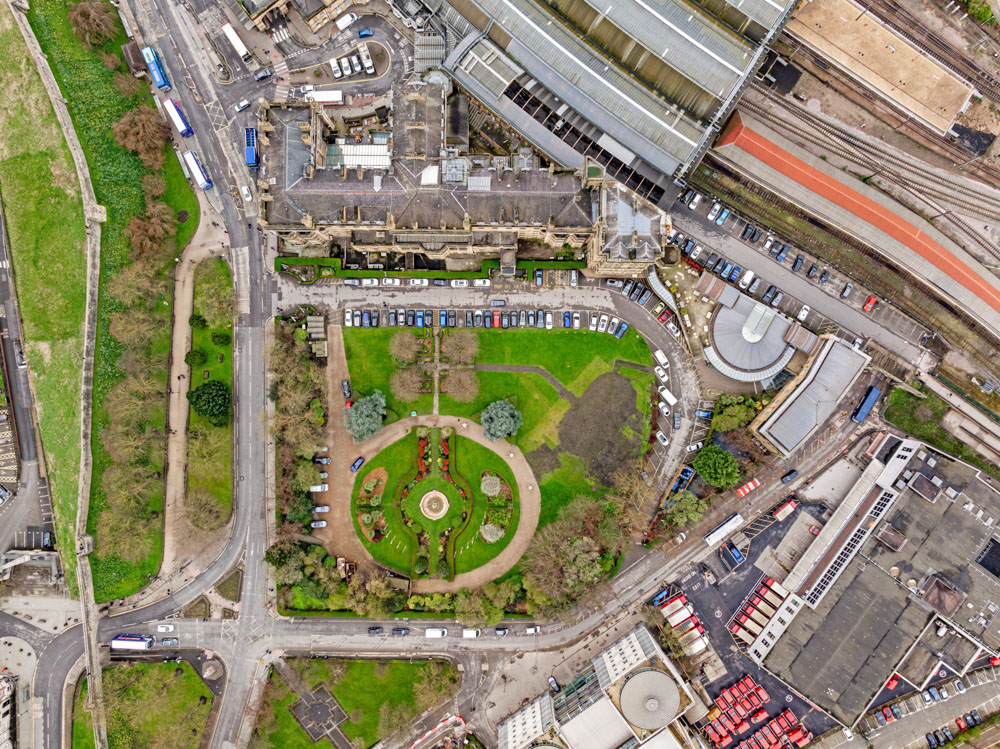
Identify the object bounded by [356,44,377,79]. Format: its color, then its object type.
white vehicle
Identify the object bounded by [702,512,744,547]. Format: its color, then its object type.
white bus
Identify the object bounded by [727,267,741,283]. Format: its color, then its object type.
blue car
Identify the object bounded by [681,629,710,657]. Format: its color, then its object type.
white truck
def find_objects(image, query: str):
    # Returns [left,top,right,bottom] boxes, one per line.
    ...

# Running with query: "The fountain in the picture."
[418,490,449,520]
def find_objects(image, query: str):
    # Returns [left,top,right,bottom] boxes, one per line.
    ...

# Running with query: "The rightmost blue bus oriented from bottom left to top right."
[849,385,883,423]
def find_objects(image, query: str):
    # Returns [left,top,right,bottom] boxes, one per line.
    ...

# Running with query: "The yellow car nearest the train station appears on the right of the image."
[651,301,666,315]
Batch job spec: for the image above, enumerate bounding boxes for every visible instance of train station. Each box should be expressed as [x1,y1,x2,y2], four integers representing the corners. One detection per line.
[440,0,812,213]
